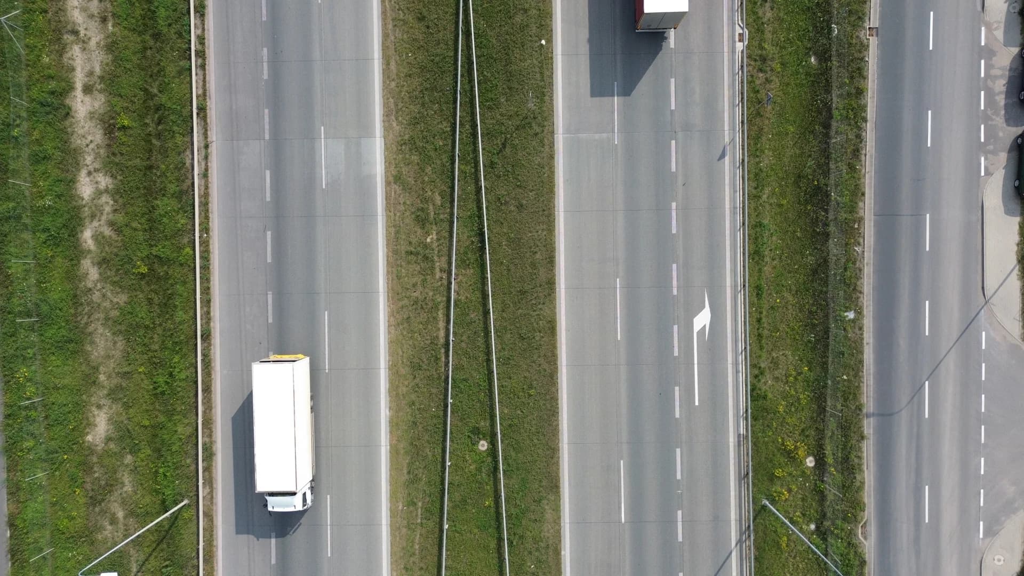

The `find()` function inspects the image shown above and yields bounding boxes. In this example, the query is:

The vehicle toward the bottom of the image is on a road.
[252,355,317,510]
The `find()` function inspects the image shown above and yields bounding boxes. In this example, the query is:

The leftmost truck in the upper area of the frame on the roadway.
[634,0,689,35]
